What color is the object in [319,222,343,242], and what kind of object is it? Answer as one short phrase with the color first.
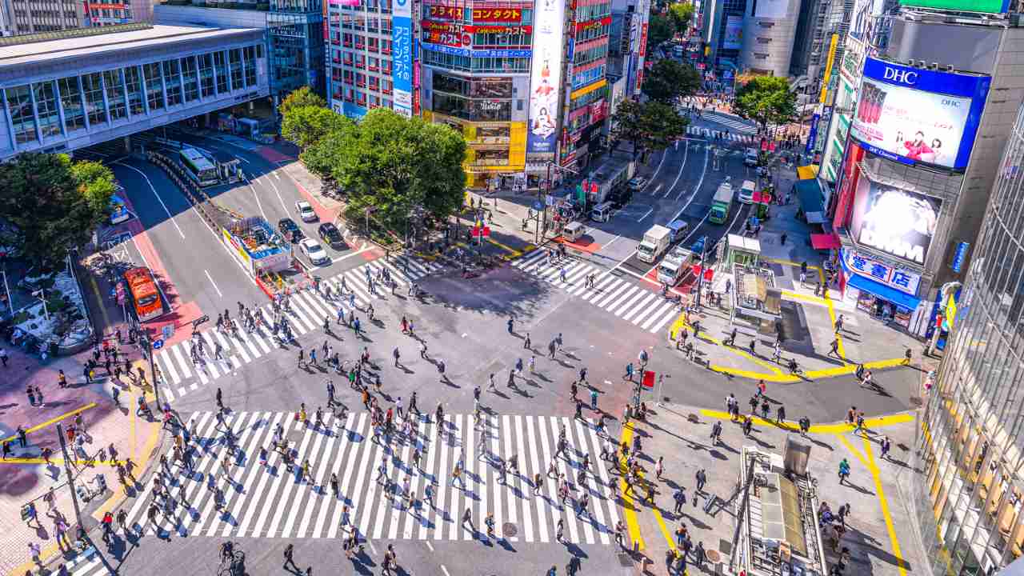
black car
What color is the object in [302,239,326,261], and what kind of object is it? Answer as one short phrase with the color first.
white car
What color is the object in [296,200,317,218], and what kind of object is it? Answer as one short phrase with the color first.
white car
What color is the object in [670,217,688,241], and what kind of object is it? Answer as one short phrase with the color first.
blue vehicle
